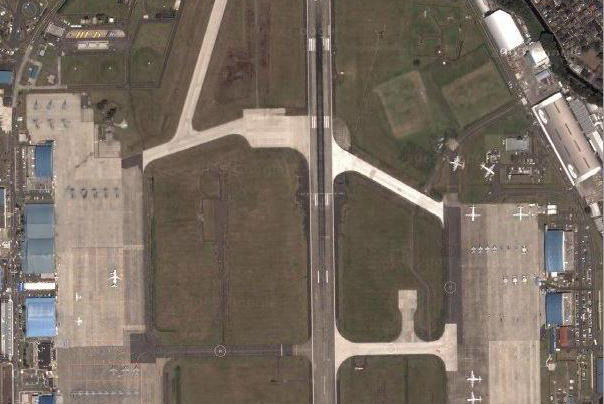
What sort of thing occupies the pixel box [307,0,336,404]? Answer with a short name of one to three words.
runway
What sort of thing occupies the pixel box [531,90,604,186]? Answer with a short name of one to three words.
building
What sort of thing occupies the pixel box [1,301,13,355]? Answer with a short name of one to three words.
building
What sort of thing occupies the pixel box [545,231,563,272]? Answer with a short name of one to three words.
hangar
